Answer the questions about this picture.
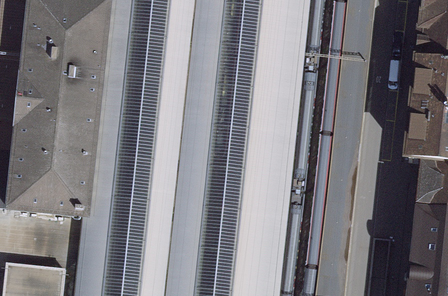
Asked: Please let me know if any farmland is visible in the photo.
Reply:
No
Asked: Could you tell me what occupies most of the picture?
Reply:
buildings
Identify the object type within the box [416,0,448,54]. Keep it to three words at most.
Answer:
building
